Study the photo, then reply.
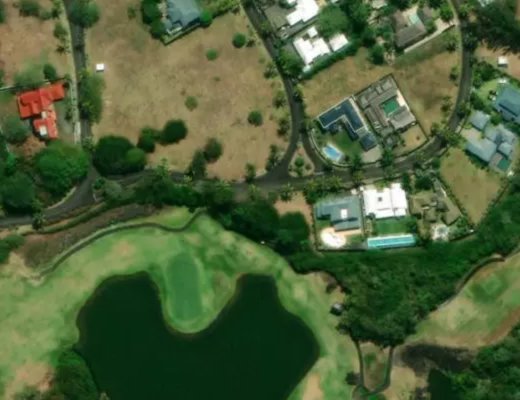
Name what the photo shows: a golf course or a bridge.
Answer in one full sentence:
The one in the frame is a golf course.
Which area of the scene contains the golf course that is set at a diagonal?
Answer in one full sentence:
The golf course that is set at a diagonal is in the bottom right part of the image.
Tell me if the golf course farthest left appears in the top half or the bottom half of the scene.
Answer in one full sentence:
It is in the bottom half that the golf course farthest left appears.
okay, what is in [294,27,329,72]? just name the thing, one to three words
house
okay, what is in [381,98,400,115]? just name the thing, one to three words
swimming pool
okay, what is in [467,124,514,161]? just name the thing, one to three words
house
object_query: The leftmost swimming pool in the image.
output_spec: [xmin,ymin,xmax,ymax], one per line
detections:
[320,142,344,162]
